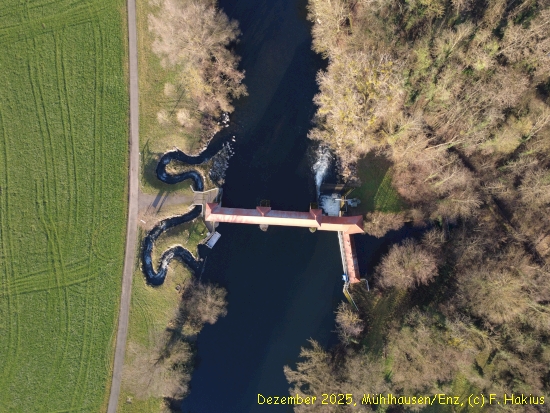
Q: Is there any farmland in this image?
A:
Yes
